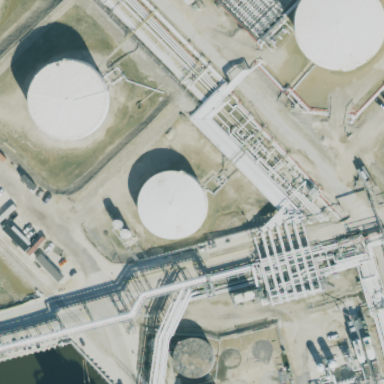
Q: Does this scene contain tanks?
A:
Yes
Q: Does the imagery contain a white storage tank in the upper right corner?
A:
Yes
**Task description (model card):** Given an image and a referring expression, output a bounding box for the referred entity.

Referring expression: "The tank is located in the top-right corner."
[292,0,384,74]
